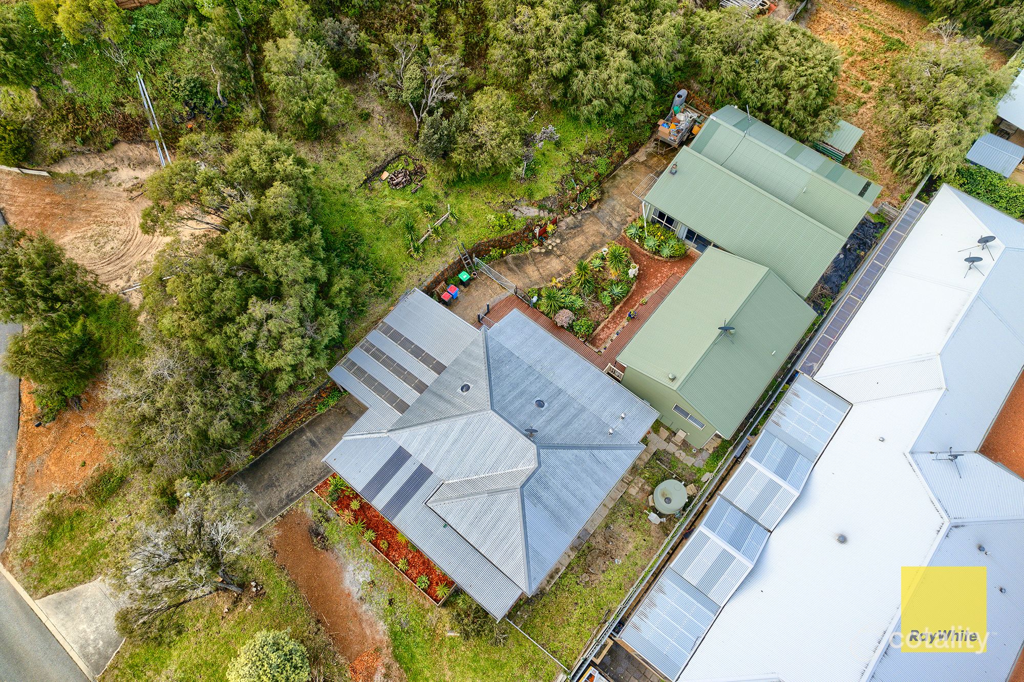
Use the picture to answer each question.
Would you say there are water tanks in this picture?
Yes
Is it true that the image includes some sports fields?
No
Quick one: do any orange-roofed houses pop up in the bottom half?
No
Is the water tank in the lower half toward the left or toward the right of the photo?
right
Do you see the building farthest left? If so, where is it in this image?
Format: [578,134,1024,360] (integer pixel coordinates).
[322,288,660,622]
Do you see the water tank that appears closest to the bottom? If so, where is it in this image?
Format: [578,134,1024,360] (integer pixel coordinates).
[649,479,688,518]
